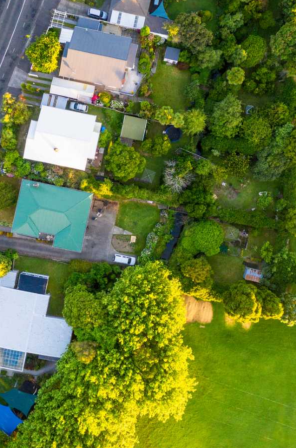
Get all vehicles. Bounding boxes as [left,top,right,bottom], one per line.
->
[113,254,136,265]
[67,101,90,112]
[86,9,108,20]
